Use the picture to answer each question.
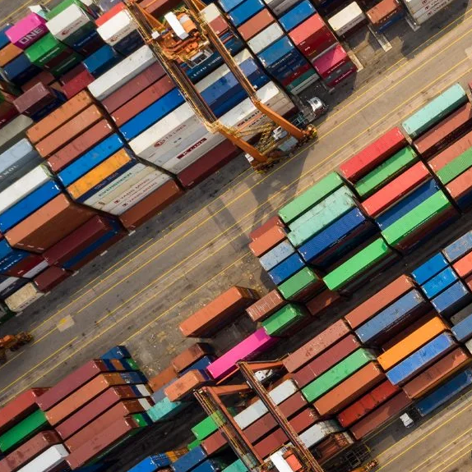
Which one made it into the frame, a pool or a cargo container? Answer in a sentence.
This aerial view contains a cargo container.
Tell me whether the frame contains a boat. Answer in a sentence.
No, I can't see a single boat in this photo.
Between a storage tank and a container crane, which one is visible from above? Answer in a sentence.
It is a container crane that can be seen here.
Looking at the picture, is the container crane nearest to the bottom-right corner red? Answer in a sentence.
Yes, the container crane nearest to the bottom-right corner is indeed red.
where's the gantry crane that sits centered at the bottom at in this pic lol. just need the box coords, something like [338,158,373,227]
[186,345,378,472]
